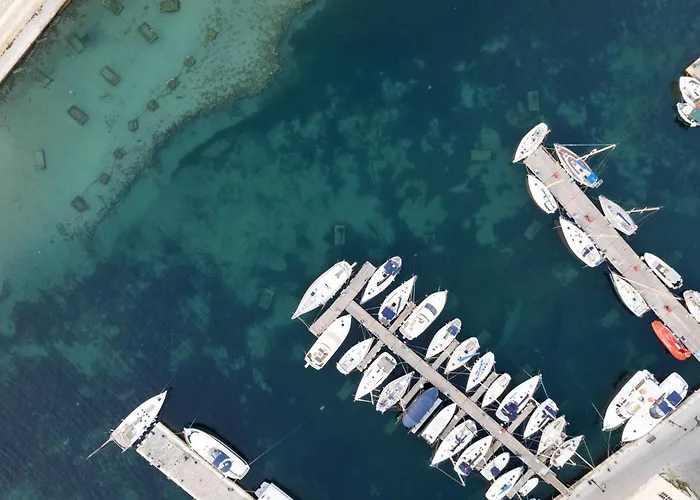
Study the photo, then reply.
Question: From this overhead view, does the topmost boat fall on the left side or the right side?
right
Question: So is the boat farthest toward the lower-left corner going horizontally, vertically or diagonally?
diagonally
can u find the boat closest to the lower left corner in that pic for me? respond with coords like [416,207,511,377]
[91,385,170,459]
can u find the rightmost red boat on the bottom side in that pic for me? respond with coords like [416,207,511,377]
[651,318,691,365]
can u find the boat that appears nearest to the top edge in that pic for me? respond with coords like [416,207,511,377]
[675,74,700,109]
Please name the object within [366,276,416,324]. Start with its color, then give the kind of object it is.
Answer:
white boat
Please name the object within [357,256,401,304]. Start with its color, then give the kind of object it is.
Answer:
white boat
